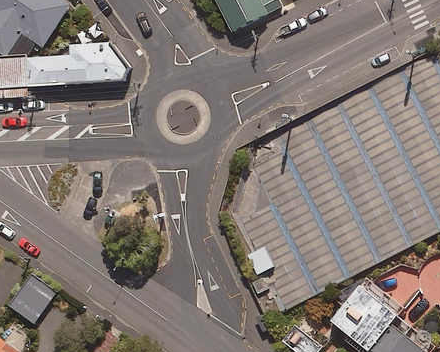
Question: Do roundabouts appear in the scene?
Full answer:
Yes, there's a roundabout here.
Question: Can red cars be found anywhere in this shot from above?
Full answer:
Yes, a red car appears in the view.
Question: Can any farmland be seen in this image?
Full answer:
No, no farmland is visible.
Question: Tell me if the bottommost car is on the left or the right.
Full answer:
You can find the bottommost car on the right side of the picture.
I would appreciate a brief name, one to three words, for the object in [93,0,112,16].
car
